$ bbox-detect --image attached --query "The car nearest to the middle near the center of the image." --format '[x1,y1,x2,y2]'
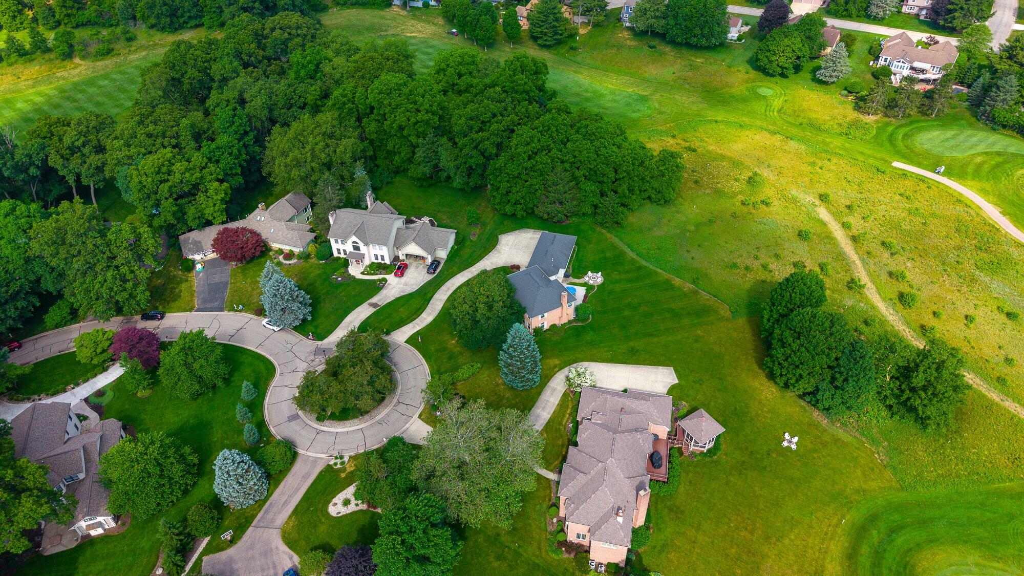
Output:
[424,258,442,274]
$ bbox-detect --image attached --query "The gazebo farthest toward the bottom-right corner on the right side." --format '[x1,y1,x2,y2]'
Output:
[671,409,728,457]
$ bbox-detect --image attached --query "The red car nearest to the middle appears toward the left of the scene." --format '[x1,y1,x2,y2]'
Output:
[392,260,409,276]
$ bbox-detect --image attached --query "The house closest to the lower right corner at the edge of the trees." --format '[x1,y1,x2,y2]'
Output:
[558,386,675,563]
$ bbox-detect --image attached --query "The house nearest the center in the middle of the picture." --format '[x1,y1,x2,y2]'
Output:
[503,231,578,329]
